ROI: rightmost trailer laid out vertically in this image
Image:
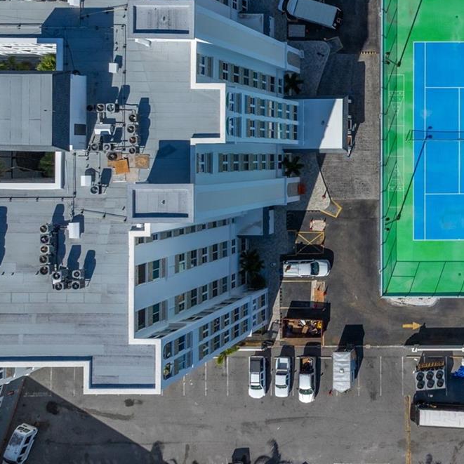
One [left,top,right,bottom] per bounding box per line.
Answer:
[333,347,355,393]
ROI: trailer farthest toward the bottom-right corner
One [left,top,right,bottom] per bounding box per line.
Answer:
[409,398,464,429]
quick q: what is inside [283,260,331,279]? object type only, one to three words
vehicle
